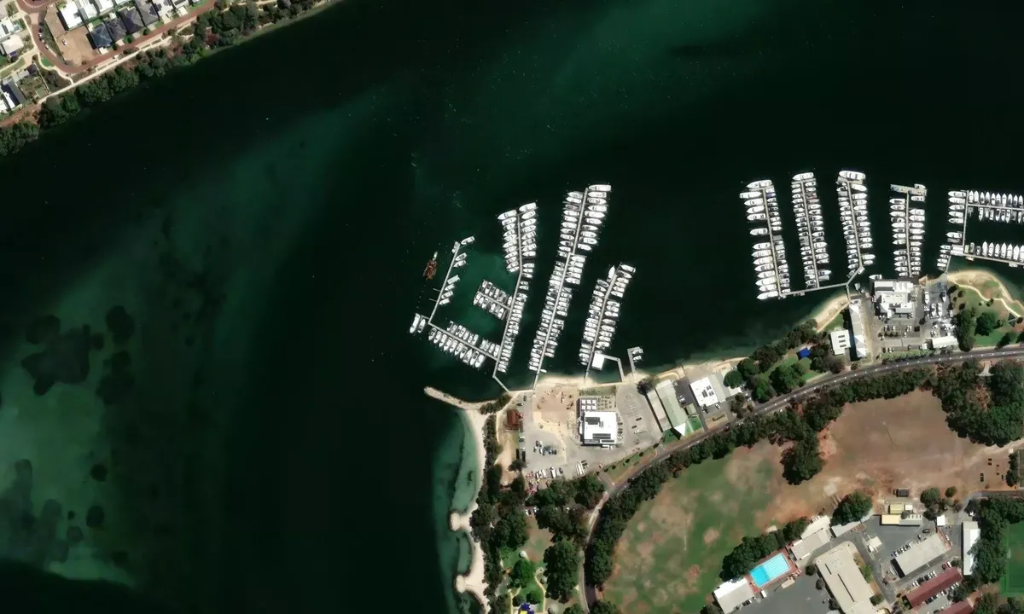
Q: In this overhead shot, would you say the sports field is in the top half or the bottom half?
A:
bottom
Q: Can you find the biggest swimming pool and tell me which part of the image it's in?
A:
bottom right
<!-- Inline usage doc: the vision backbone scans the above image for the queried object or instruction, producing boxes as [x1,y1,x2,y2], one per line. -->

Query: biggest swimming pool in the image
[746,546,801,595]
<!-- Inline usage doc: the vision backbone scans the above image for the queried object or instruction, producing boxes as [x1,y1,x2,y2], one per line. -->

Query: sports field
[599,383,1024,614]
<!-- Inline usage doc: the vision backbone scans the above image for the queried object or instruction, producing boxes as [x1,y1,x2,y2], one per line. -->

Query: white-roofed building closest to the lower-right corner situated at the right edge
[963,522,980,575]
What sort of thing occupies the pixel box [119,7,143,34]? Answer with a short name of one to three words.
house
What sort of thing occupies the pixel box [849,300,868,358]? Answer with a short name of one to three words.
shed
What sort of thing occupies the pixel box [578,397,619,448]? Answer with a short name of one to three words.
building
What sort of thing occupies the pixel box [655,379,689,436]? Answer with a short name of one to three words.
shed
